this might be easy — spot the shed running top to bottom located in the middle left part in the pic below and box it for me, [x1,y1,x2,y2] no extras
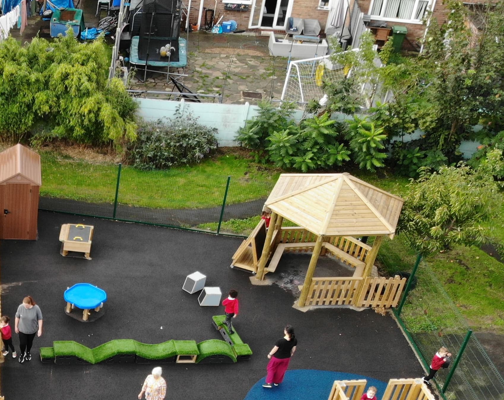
[0,144,43,240]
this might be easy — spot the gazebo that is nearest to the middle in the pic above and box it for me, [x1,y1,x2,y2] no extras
[256,168,405,306]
